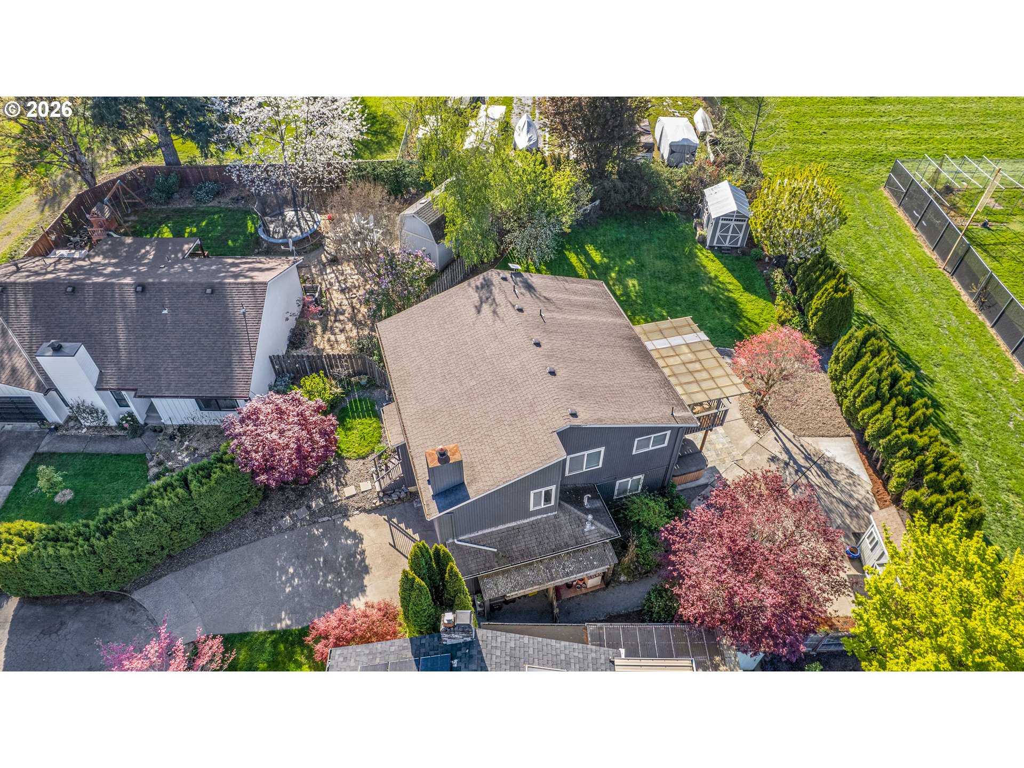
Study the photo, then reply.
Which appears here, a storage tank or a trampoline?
trampoline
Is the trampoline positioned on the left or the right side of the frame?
left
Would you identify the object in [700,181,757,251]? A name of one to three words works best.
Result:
shed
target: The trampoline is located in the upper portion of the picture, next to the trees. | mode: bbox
[254,186,323,252]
